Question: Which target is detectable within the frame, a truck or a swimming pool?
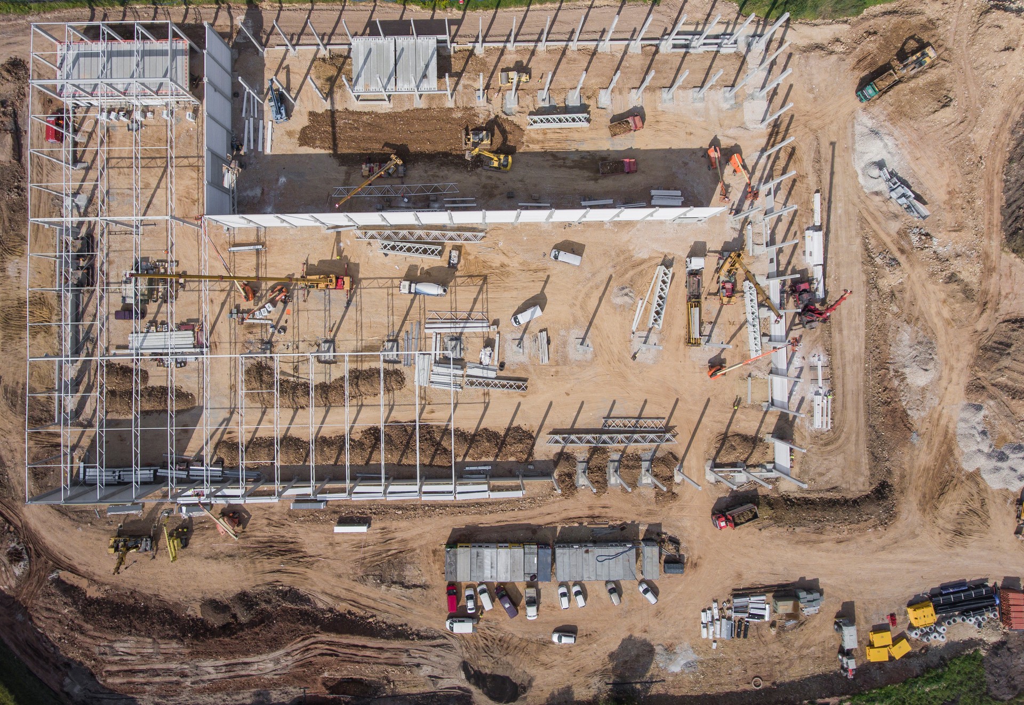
truck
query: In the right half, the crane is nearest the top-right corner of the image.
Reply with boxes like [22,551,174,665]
[795,274,855,325]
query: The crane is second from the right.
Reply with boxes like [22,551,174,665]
[713,250,783,321]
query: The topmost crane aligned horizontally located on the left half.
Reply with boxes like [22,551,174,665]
[123,264,353,303]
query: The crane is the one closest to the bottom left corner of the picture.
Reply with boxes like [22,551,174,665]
[103,528,152,577]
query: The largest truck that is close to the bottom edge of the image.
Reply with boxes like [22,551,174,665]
[836,622,862,681]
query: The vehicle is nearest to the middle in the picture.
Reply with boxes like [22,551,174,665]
[511,304,544,327]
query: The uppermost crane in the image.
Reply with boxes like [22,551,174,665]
[333,150,404,209]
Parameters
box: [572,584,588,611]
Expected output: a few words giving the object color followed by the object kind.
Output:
white car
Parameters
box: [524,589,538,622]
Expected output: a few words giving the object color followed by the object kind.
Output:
white vehicle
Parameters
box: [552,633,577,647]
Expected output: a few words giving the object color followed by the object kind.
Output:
white car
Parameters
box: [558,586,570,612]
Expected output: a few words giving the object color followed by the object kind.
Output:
white vehicle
